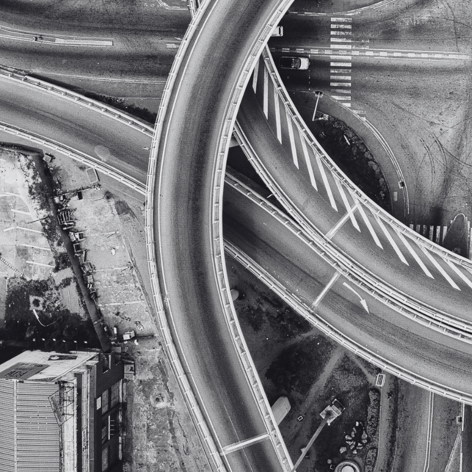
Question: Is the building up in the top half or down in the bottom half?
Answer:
bottom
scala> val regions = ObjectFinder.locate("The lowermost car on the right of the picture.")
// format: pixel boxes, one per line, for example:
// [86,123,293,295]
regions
[279,55,310,71]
